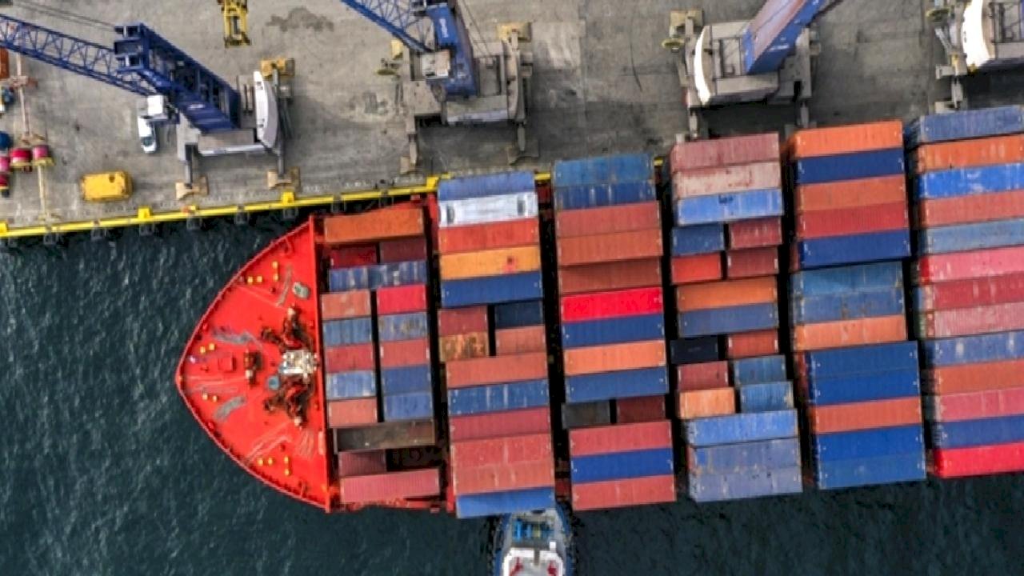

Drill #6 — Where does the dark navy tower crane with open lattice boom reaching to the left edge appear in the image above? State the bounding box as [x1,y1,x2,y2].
[0,0,298,196]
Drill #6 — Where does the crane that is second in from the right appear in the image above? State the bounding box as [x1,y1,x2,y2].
[662,0,858,144]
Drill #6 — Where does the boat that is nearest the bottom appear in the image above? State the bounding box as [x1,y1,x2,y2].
[491,504,576,576]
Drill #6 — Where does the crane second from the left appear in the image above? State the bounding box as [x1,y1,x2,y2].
[341,0,536,172]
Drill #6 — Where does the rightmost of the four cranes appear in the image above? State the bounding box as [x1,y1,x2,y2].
[926,0,1024,112]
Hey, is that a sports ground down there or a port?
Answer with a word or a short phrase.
port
